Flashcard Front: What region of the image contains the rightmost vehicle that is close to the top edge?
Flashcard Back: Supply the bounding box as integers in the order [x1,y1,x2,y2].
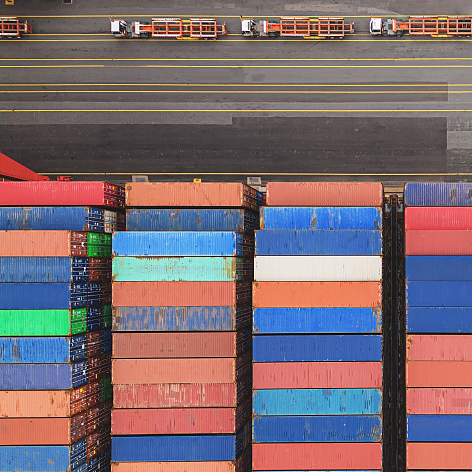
[371,14,472,38]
